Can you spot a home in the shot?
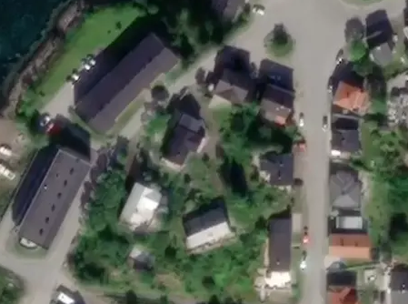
Yes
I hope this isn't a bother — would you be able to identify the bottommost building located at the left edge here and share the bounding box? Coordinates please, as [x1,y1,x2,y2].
[11,143,93,250]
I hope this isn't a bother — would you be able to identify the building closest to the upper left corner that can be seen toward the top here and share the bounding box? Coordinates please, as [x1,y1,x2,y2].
[71,26,179,137]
